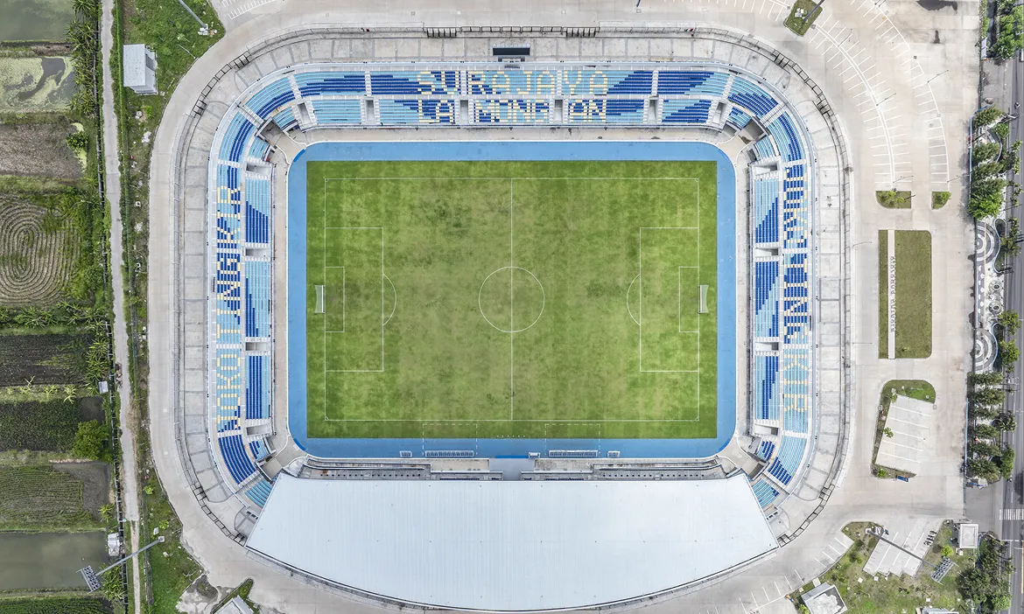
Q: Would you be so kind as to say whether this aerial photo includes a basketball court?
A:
No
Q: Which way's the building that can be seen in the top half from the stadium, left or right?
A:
on the left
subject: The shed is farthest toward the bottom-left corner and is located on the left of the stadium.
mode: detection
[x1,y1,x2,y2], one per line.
[107,532,124,556]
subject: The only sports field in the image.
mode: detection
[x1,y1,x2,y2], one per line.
[277,130,747,467]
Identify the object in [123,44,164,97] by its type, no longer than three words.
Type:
building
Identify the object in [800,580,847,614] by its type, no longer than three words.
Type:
house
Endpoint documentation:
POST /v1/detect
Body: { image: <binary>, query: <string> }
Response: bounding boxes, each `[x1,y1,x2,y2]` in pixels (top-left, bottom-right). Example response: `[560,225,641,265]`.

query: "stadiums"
[169,22,855,614]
